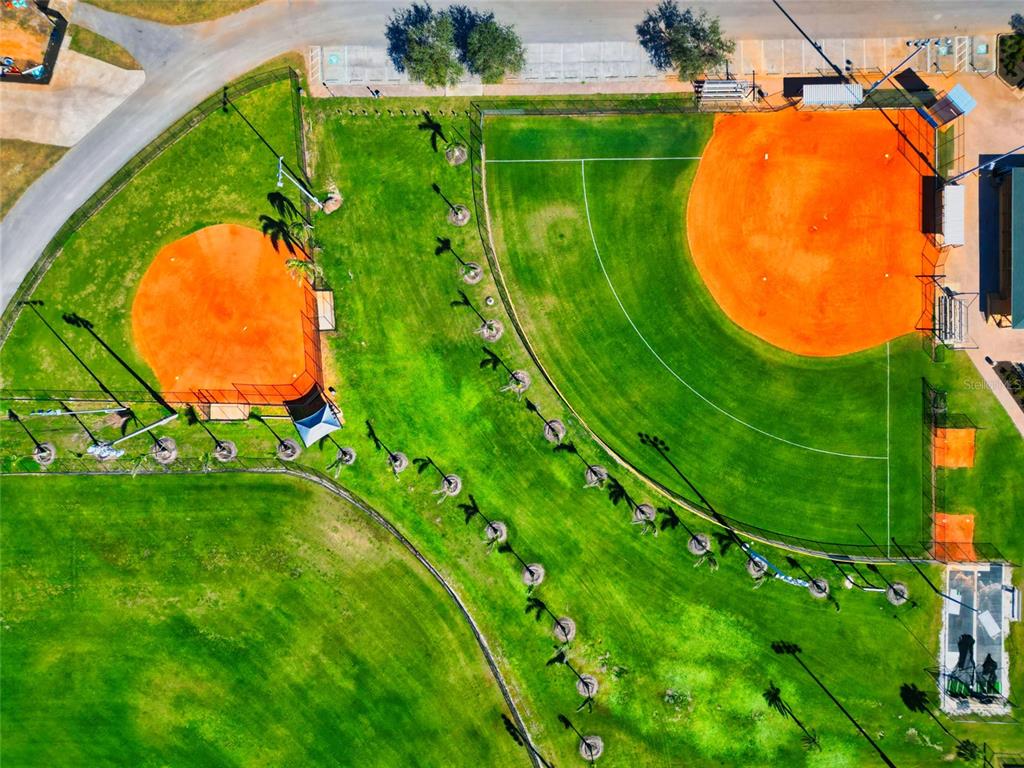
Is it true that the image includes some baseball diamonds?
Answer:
Yes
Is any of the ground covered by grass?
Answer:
Yes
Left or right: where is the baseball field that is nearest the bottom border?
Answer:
left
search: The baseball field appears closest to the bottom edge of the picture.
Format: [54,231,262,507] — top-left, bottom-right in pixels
[0,472,537,768]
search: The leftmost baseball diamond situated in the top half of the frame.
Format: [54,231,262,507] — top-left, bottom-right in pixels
[0,78,323,404]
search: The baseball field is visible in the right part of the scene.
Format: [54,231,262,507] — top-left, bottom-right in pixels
[485,110,936,560]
